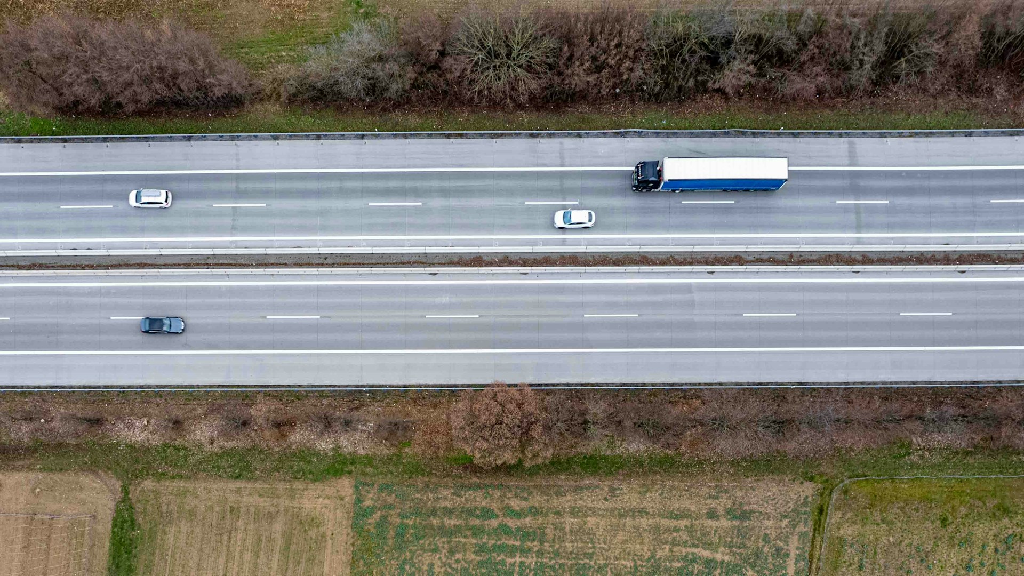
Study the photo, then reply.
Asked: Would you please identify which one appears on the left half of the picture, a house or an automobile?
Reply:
automobile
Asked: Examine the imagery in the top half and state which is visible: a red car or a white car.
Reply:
white car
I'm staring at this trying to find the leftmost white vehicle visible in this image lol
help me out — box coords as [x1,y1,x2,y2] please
[130,189,173,208]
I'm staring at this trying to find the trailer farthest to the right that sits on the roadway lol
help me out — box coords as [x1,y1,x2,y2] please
[658,158,789,190]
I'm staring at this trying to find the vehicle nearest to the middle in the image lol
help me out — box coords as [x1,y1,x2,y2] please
[554,210,595,228]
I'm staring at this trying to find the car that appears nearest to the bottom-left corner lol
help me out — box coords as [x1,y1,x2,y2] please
[140,316,187,334]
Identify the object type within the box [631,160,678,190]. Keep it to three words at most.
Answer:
truck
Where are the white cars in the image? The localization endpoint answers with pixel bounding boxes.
[130,189,173,208]
[554,210,595,228]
